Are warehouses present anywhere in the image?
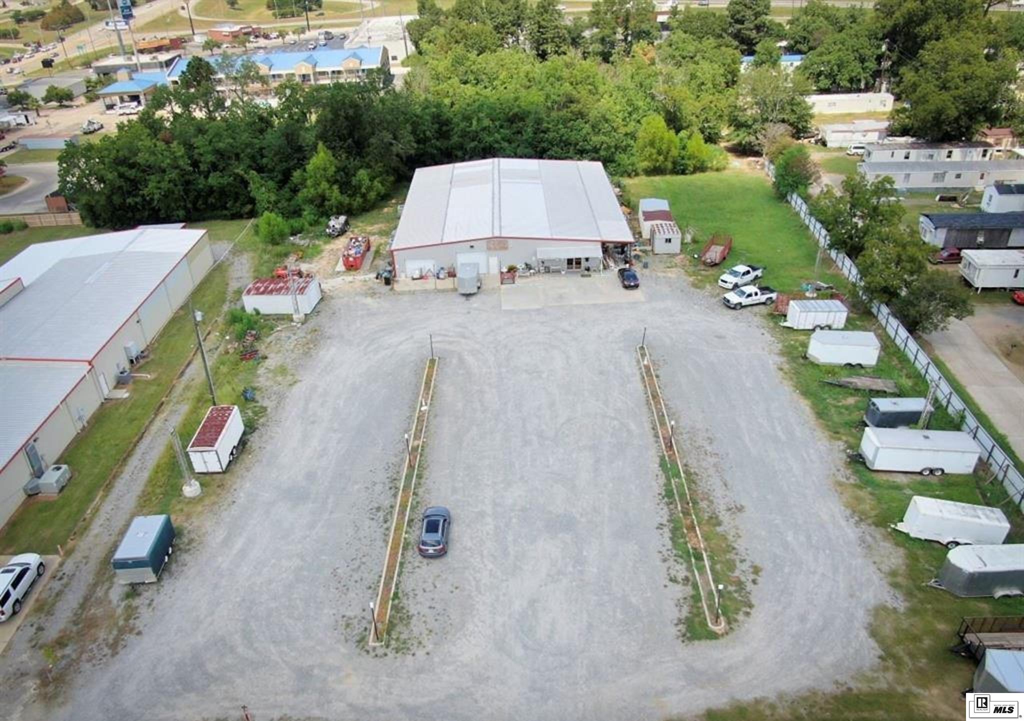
Yes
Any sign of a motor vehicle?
Yes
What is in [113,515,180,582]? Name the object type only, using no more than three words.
trailer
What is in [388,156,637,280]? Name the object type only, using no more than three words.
warehouse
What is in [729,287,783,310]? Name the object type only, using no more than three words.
truck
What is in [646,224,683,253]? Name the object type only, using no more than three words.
shed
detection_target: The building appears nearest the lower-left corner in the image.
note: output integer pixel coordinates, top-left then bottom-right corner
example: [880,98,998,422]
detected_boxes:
[0,224,218,531]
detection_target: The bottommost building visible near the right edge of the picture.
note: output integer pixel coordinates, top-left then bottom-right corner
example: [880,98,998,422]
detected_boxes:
[965,254,1024,290]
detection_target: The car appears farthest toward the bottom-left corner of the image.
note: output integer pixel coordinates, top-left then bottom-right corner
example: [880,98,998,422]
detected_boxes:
[0,549,46,615]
